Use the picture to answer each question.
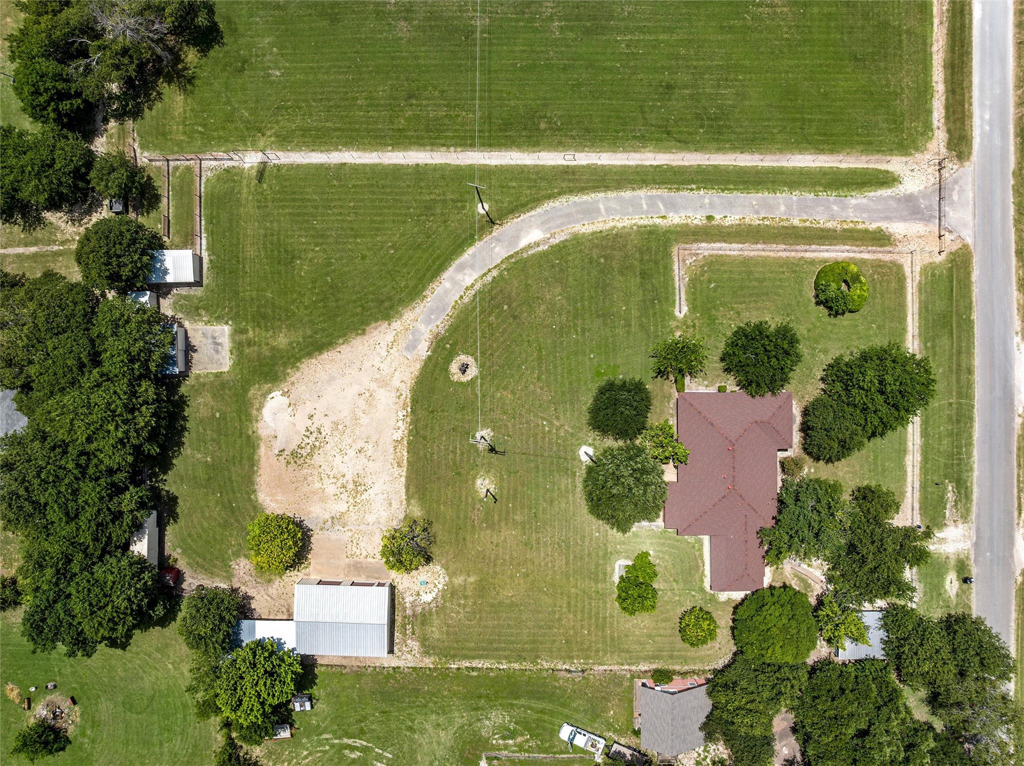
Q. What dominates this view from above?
grass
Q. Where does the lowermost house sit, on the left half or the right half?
right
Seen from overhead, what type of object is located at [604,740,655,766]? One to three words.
trailer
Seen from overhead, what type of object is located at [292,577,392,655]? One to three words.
building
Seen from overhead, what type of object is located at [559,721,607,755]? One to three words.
truck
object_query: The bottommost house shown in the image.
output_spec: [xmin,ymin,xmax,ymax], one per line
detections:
[634,680,708,766]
